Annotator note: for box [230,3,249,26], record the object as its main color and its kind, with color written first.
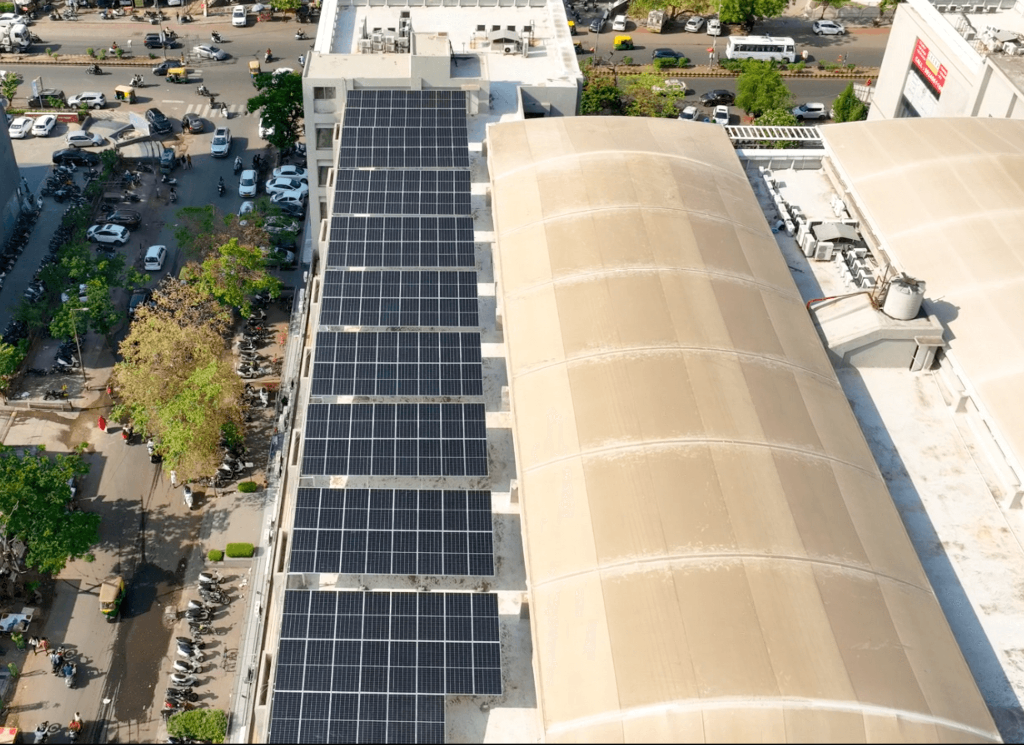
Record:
white car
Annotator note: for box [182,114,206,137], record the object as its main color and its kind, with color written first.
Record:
gray car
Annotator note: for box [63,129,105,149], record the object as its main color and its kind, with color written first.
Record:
gray car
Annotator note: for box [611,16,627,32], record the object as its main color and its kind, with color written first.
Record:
white car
